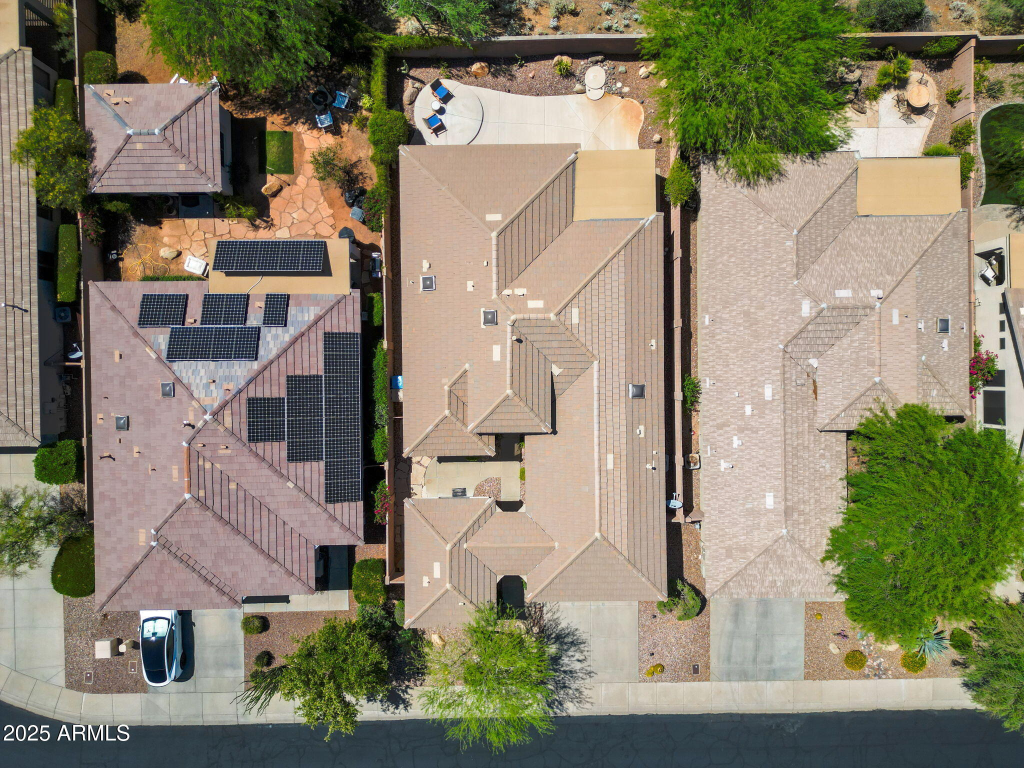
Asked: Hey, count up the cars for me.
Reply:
1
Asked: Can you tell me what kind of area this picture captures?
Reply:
residential area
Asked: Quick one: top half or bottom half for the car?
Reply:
bottom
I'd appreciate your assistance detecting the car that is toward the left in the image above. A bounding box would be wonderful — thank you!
[137,611,187,686]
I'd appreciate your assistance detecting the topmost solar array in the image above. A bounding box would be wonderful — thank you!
[213,241,324,271]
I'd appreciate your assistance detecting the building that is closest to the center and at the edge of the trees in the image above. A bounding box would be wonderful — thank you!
[398,142,668,630]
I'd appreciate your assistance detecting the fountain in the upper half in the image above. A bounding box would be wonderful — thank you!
[585,70,605,104]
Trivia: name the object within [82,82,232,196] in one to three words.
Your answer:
house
